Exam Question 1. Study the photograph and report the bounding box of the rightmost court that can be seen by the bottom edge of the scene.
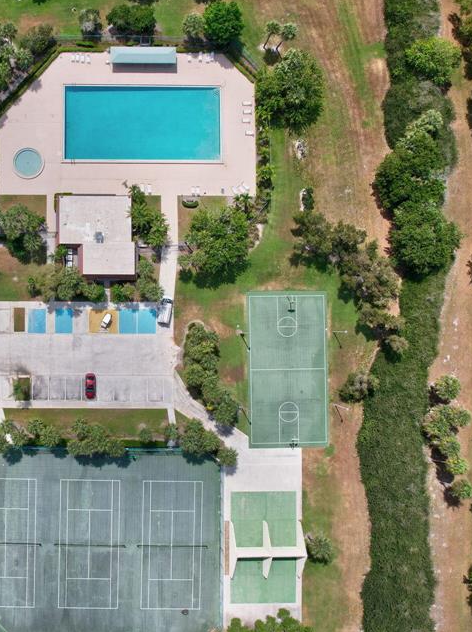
[230,490,309,604]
